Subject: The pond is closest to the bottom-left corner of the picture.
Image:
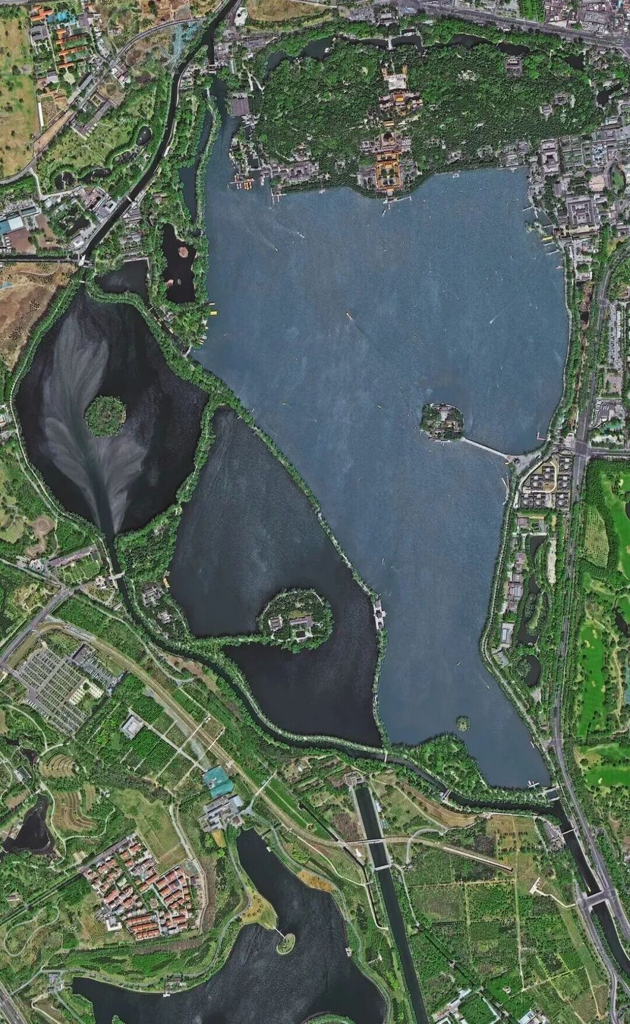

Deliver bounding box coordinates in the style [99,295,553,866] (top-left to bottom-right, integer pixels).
[0,796,53,856]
